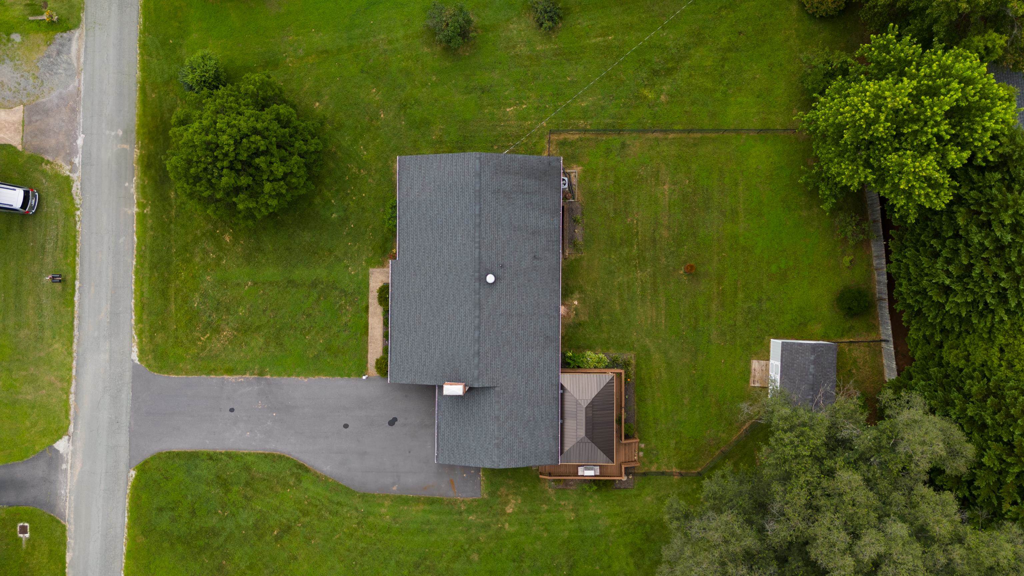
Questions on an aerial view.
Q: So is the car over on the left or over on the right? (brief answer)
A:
left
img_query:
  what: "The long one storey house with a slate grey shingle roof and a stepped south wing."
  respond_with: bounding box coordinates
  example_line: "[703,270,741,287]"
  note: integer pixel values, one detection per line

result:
[389,152,563,468]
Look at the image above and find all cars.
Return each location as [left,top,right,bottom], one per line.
[0,182,42,215]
